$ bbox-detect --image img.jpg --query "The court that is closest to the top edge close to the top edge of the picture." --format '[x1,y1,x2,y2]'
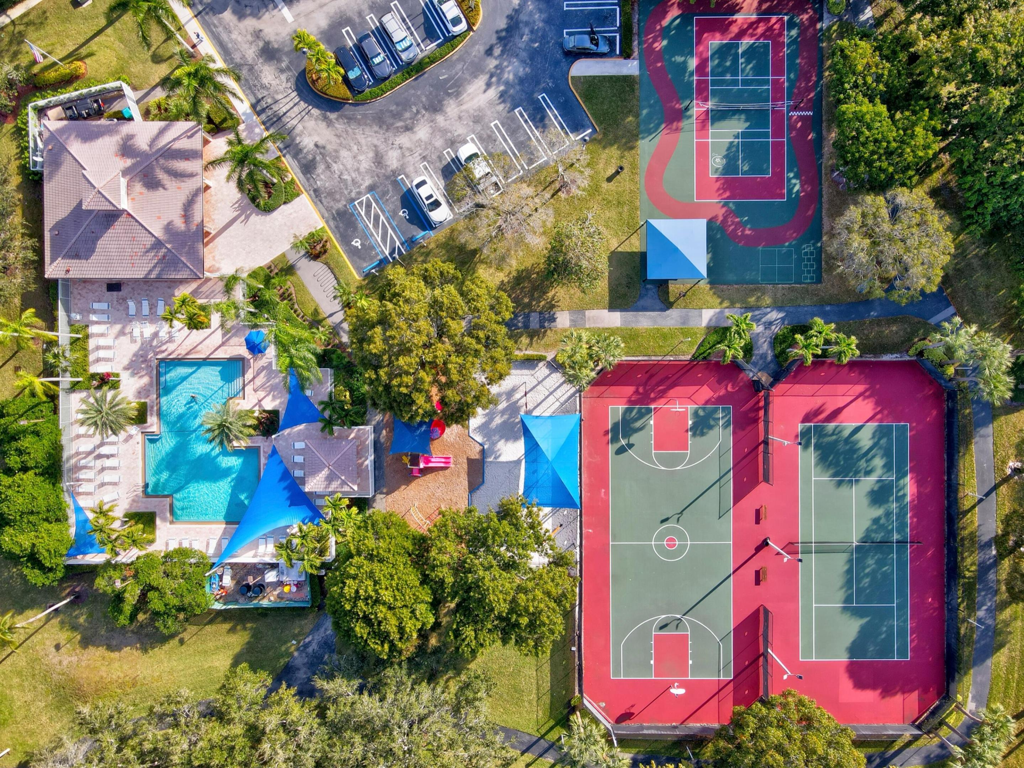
[639,0,823,284]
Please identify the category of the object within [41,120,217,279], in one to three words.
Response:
building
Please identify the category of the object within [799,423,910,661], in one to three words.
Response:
tennis court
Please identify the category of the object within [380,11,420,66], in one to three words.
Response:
car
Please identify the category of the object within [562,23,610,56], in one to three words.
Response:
car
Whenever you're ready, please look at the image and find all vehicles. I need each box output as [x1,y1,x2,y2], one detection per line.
[356,30,395,84]
[562,23,610,56]
[333,44,371,95]
[462,140,506,200]
[410,175,449,226]
[380,11,420,66]
[430,0,466,41]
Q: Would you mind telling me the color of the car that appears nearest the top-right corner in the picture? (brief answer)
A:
blue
